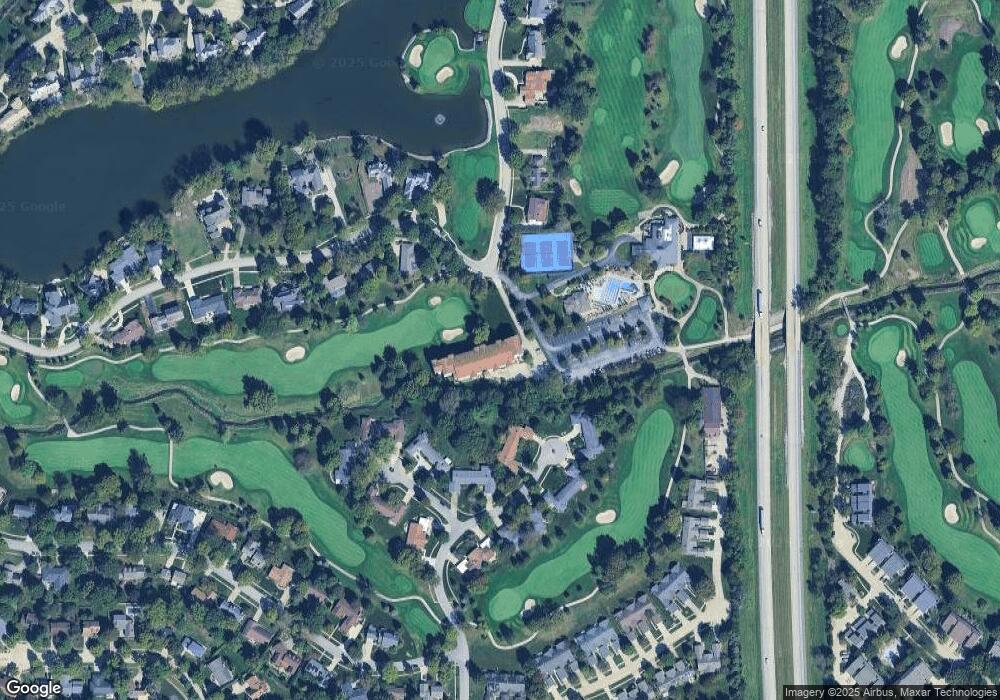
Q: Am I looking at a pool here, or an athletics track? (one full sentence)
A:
There is a pool in the scene.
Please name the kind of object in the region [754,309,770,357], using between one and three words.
bridge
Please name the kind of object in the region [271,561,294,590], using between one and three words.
house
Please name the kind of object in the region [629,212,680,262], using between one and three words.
building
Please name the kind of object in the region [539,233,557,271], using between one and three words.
tennis court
